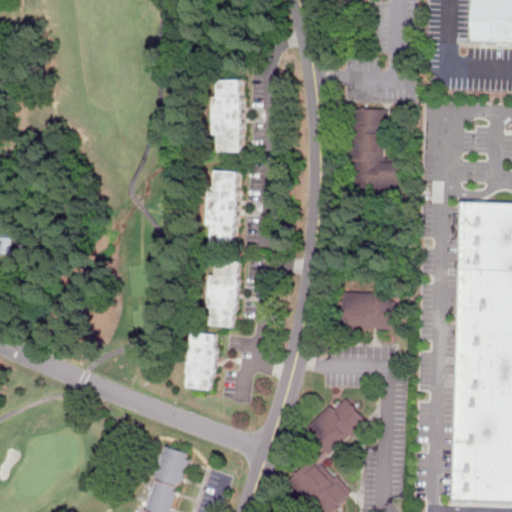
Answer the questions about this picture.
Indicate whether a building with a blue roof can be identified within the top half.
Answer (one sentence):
No, there's no building with a blue roof to be seen within the top half.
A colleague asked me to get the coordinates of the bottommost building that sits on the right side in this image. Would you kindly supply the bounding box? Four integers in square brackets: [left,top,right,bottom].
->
[292,464,352,512]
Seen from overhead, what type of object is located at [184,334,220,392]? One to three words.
building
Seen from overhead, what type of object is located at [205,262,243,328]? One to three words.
building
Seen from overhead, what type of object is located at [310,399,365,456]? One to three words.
house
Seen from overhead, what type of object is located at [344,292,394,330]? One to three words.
house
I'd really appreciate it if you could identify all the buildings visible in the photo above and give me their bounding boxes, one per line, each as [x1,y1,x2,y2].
[452,204,512,502]
[352,108,400,187]
[469,0,512,42]
[0,238,12,255]
[205,262,243,328]
[292,464,352,512]
[184,334,220,392]
[310,399,365,456]
[344,292,394,330]
[204,170,244,240]
[210,81,248,153]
